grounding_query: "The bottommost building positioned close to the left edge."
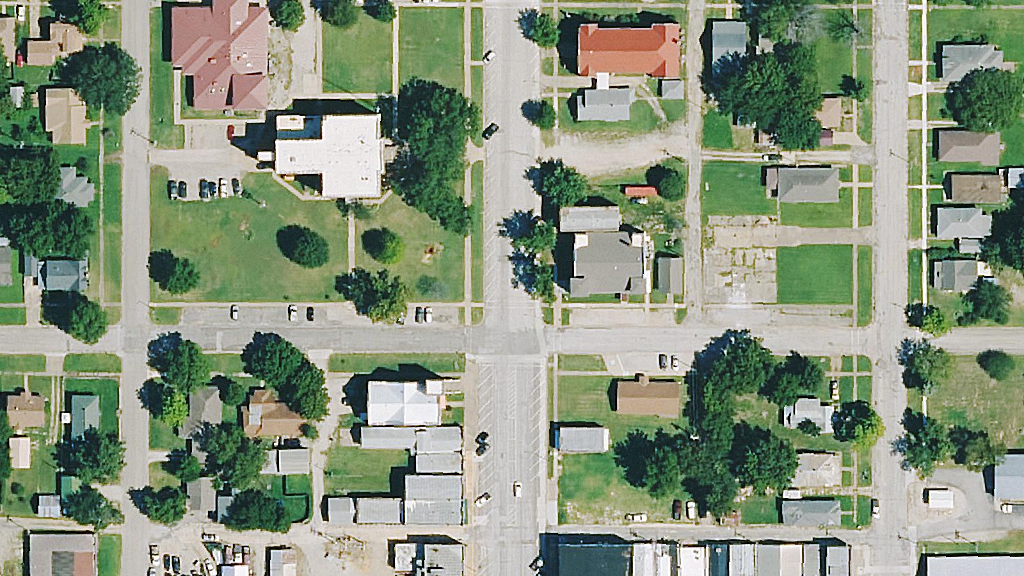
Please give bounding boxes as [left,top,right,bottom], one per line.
[29,533,95,576]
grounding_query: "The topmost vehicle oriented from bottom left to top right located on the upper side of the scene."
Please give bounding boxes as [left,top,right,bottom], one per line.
[482,49,497,63]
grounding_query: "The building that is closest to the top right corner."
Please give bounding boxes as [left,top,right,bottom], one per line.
[943,44,1015,80]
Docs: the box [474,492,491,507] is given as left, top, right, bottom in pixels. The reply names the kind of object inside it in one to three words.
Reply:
vehicle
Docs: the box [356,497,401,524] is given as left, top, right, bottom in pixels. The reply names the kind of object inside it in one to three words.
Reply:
building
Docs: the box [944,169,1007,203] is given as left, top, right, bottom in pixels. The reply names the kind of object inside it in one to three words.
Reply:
house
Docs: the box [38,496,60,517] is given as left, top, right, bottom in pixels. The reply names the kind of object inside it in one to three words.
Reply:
shed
